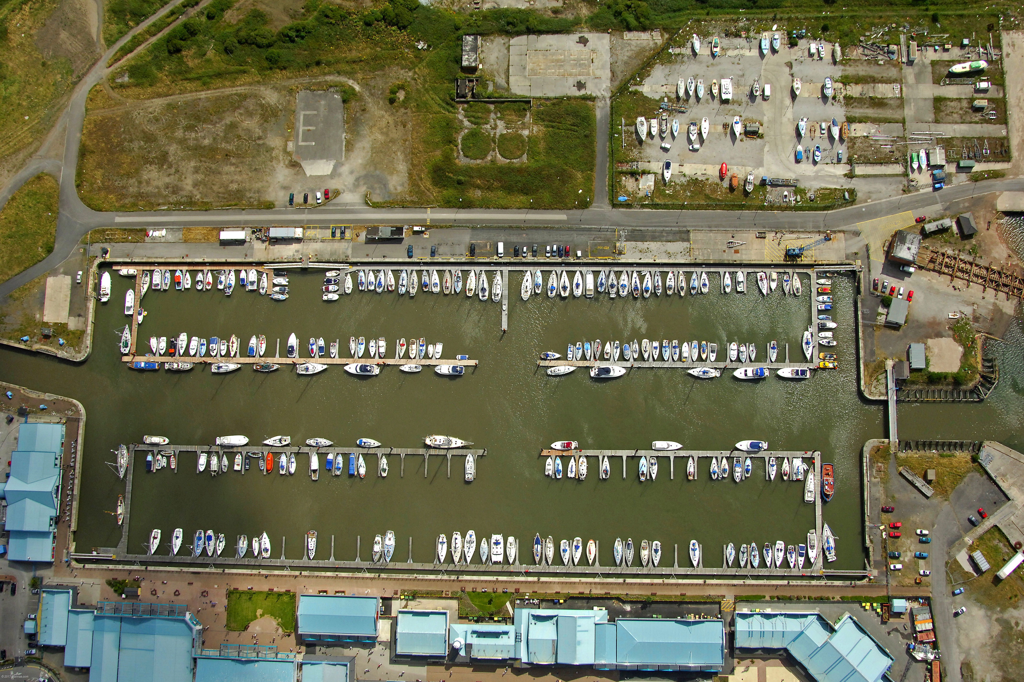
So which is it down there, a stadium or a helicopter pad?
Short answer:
helicopter pad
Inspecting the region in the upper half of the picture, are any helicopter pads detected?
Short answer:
Yes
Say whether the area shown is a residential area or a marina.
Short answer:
marina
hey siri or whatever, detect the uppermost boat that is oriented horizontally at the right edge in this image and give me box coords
[950,61,988,73]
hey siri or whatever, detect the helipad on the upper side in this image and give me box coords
[293,89,345,160]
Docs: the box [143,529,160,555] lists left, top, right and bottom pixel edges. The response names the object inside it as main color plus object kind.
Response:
white boat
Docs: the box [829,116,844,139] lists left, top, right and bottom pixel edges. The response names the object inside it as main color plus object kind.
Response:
white boat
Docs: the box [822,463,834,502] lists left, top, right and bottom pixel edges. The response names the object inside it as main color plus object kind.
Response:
red boat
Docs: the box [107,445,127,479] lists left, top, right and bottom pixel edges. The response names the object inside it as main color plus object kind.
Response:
gray boat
